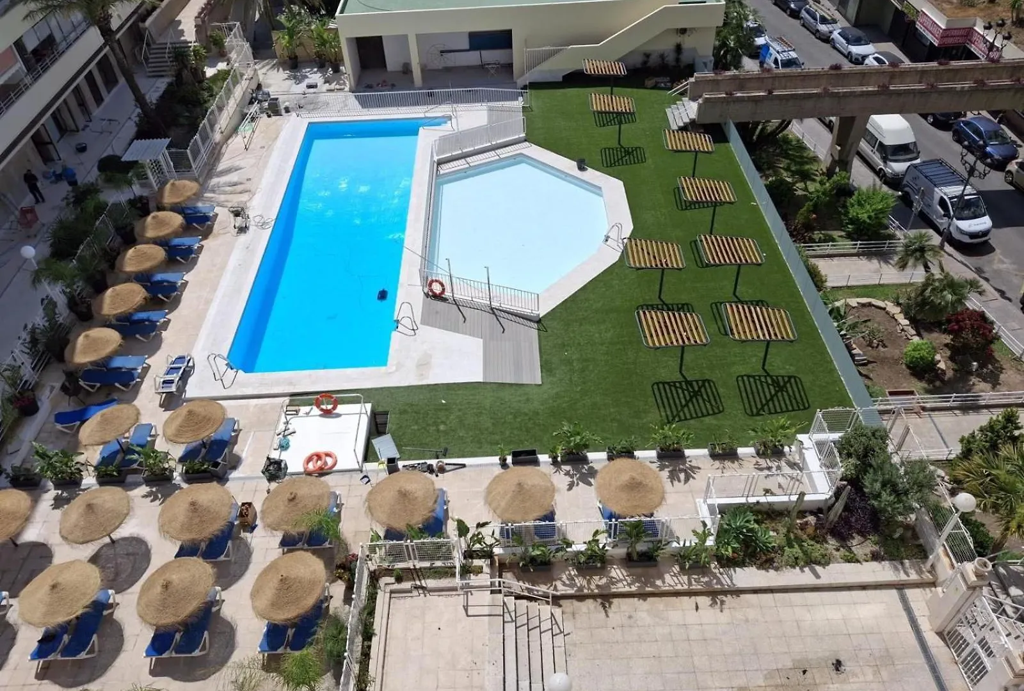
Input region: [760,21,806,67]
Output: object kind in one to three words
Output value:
van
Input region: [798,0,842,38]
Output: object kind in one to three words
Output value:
car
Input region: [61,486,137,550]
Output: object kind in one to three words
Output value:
umbrella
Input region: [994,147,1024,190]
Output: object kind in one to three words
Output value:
car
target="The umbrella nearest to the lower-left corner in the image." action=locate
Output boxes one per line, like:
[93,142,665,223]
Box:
[12,560,96,637]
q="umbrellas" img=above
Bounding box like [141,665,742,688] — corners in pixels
[139,215,189,265]
[120,247,174,292]
[121,556,206,631]
[162,395,231,448]
[365,469,436,531]
[242,547,323,618]
[260,476,333,541]
[12,560,96,637]
[61,486,137,550]
[160,483,236,543]
[488,460,559,525]
[65,330,127,378]
[97,288,156,340]
[81,402,150,454]
[162,182,209,231]
[599,455,669,519]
